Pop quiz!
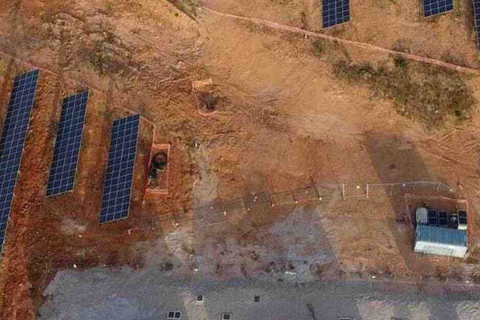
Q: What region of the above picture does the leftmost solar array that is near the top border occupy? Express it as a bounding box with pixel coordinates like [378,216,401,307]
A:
[322,0,352,29]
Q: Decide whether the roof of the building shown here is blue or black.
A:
blue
